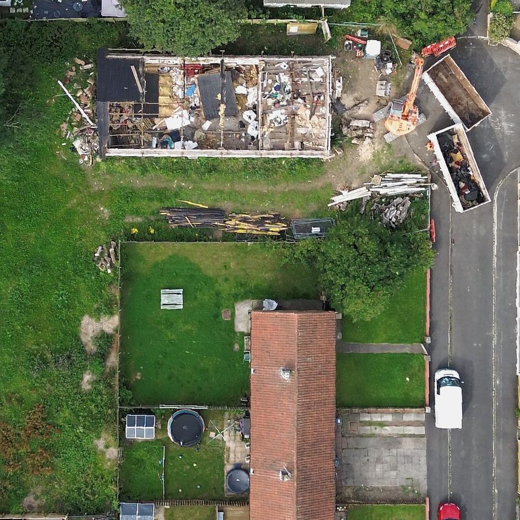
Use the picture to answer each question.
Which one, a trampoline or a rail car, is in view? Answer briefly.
trampoline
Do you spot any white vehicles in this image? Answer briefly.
Yes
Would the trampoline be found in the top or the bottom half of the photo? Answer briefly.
bottom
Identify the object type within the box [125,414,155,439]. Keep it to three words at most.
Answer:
greenhouse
